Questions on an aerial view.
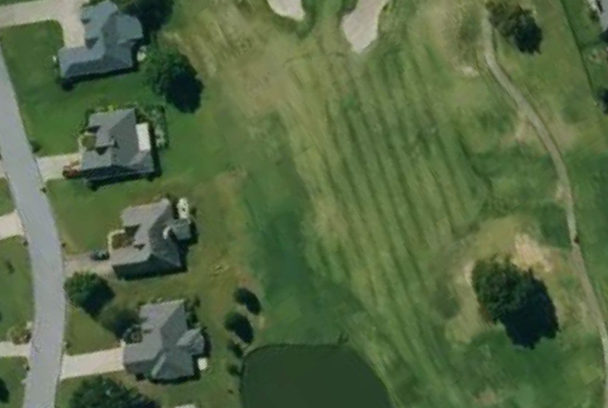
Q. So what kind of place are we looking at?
golf course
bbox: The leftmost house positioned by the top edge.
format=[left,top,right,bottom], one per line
[57,0,144,83]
